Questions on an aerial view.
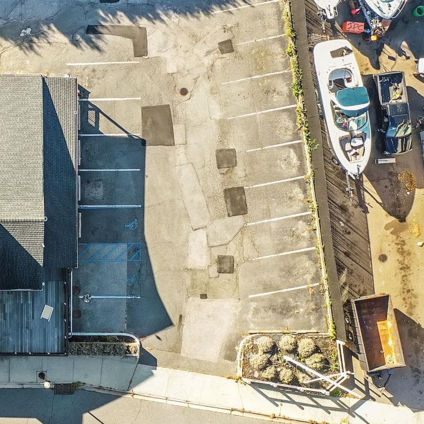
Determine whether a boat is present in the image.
Yes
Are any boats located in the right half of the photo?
Yes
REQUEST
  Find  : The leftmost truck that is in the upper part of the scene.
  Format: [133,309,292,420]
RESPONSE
[369,72,414,157]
